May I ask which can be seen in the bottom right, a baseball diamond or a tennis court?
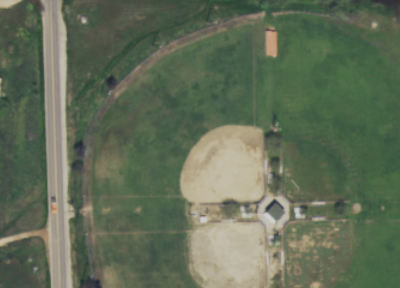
baseball diamond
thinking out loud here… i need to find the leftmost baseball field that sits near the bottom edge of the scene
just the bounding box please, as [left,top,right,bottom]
[95,222,265,288]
